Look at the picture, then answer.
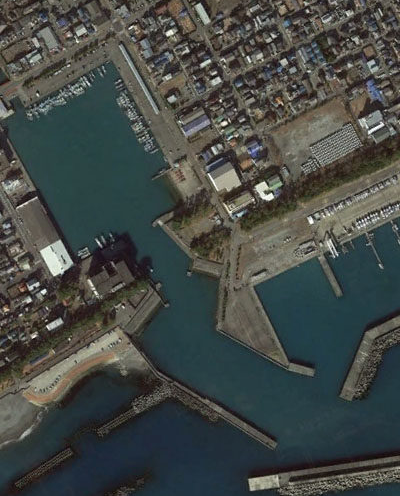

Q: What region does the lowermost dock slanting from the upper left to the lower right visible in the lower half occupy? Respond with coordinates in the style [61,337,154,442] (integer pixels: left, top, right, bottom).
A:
[129,334,276,450]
